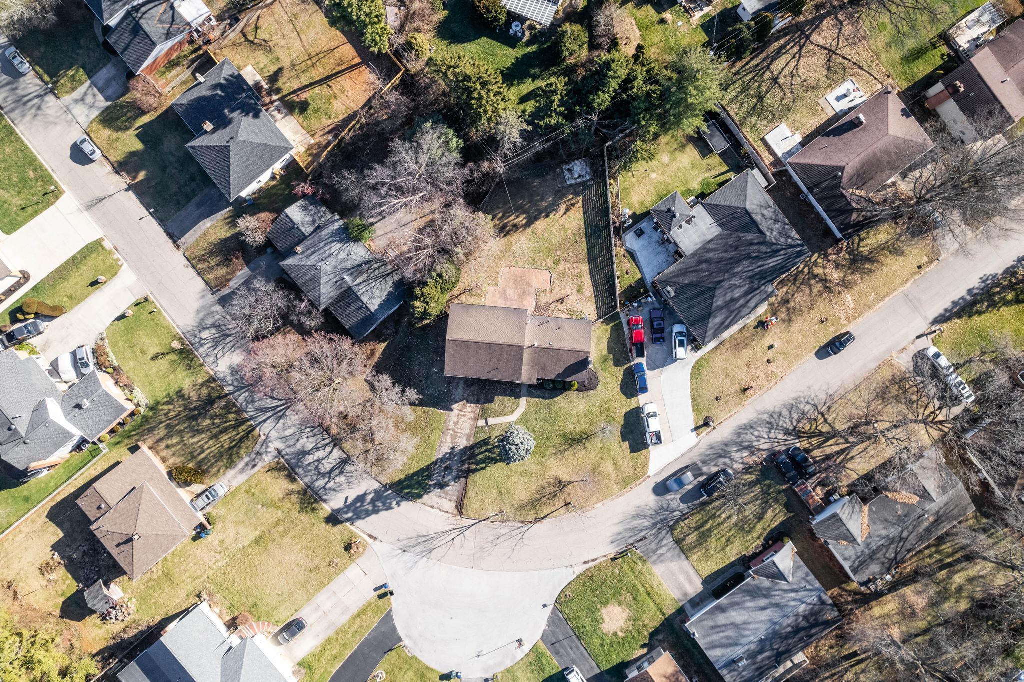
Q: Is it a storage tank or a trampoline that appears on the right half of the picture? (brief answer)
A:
trampoline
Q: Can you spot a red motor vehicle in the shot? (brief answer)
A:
Yes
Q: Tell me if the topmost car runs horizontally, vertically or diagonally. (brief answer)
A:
diagonally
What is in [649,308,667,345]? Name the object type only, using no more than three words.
vehicle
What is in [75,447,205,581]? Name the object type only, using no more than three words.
house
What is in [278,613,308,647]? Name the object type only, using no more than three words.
car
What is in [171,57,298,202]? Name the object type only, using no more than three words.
house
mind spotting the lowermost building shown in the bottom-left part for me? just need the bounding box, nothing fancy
[117,603,300,682]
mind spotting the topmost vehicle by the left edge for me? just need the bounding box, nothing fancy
[3,42,36,78]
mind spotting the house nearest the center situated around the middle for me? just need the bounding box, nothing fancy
[444,303,595,384]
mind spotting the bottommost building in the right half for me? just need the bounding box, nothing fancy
[623,640,690,682]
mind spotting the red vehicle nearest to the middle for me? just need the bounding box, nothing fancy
[627,316,647,359]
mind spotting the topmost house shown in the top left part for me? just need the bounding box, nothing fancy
[85,0,212,80]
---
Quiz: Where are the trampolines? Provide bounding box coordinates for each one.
[700,120,731,154]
